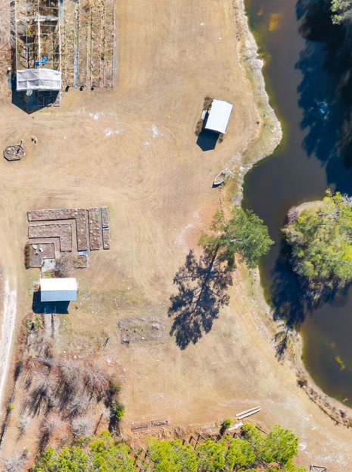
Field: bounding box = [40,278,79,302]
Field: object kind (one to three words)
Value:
shed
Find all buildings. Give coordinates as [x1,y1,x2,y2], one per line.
[40,278,79,302]
[205,98,238,135]
[13,0,62,93]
